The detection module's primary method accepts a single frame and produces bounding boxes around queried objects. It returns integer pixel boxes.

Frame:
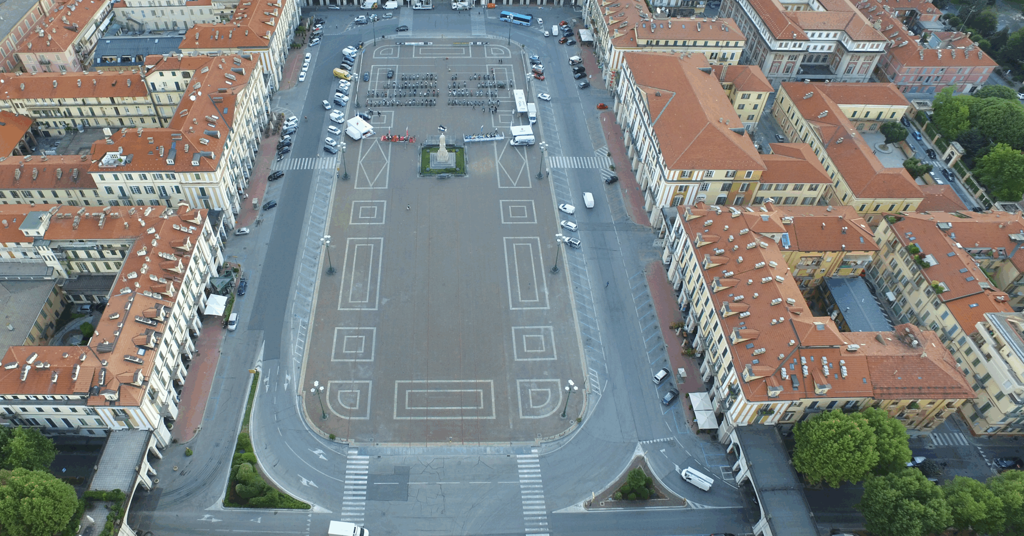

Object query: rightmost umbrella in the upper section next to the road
[579,30,593,44]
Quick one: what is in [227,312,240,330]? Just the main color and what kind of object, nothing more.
white vehicle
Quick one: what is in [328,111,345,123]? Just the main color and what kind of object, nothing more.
white vehicle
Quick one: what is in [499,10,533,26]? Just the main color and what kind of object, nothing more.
blue vehicle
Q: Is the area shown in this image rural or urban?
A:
urban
